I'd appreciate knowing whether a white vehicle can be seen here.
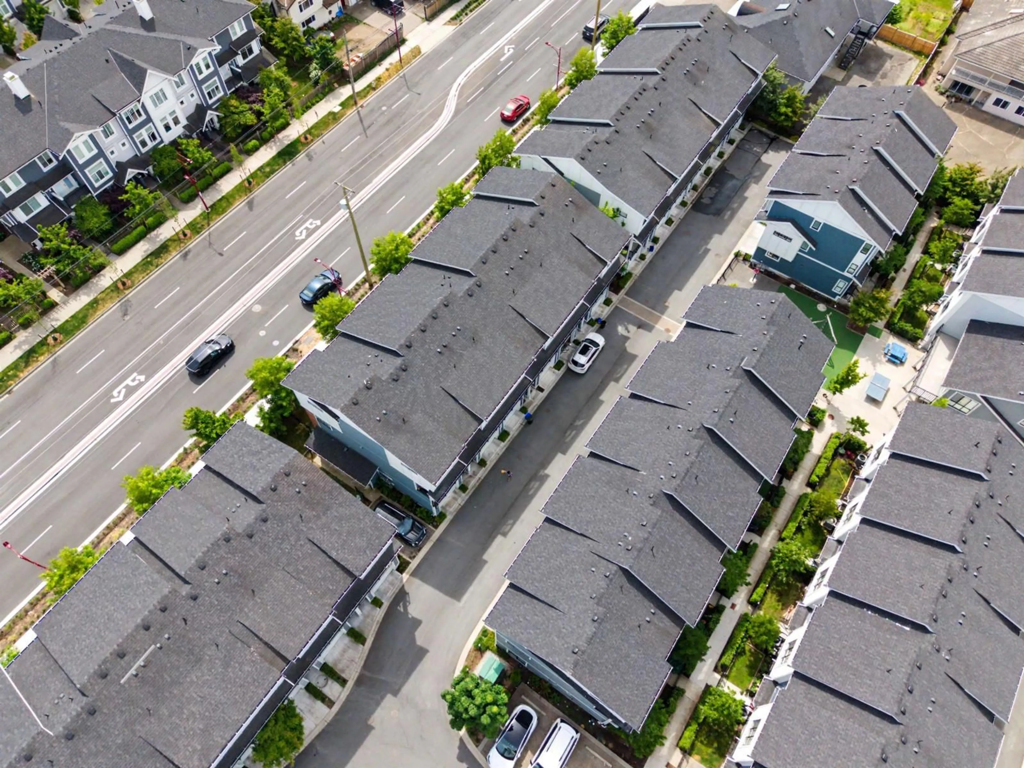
Yes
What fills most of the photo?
buildings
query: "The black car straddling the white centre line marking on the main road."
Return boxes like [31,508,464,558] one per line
[183,331,236,377]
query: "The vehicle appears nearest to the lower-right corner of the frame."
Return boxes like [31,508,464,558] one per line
[528,718,578,768]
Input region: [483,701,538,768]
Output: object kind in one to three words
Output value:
car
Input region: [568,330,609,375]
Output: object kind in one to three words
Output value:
car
